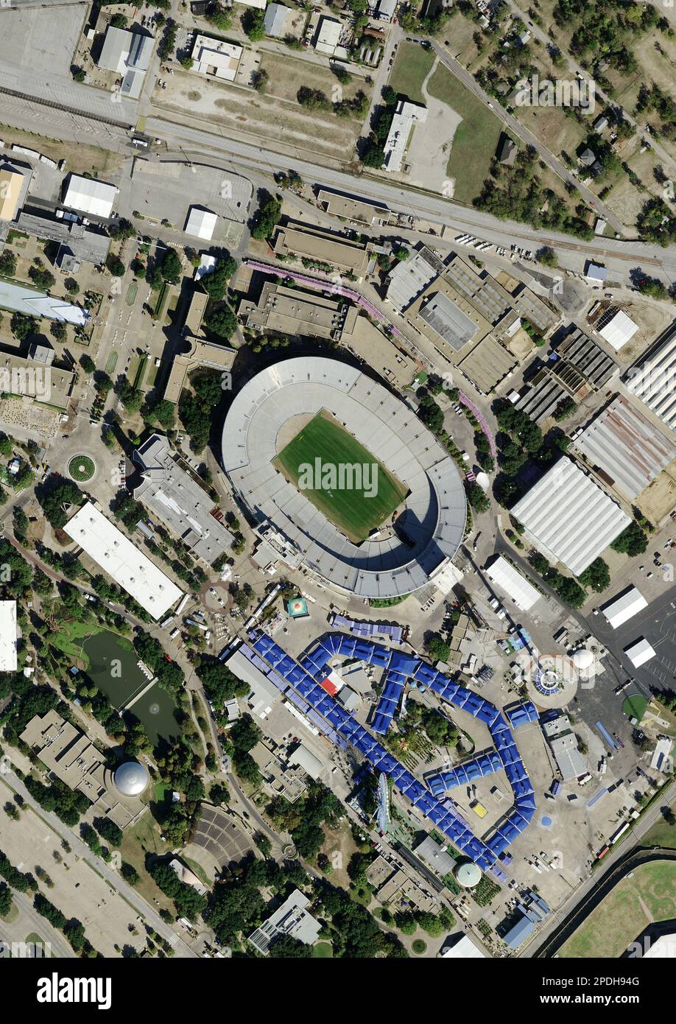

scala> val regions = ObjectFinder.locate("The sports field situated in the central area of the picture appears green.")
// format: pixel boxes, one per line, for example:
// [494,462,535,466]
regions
[275,411,407,542]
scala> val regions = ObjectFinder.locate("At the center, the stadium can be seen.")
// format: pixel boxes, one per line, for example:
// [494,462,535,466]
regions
[216,355,467,598]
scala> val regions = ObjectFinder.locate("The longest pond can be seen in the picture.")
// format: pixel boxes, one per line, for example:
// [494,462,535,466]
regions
[72,629,186,746]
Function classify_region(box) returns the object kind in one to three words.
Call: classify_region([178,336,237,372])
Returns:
building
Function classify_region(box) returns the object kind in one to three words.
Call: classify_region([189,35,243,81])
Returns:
building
